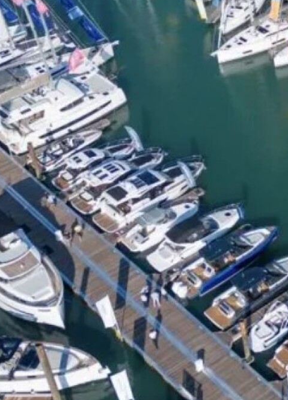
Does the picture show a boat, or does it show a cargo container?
boat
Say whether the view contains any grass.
No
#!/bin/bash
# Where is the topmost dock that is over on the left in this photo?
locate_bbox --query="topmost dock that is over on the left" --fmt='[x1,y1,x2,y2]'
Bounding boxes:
[28,122,111,172]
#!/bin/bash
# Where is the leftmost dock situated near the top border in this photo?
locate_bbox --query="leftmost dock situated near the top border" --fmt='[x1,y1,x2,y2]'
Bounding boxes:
[196,0,238,25]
